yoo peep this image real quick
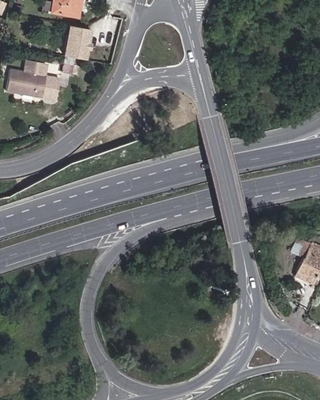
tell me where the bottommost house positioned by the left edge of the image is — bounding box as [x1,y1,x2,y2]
[6,60,68,104]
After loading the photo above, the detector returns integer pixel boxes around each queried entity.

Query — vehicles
[106,32,112,44]
[249,278,256,288]
[187,50,194,62]
[198,163,208,170]
[116,224,128,230]
[91,36,96,46]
